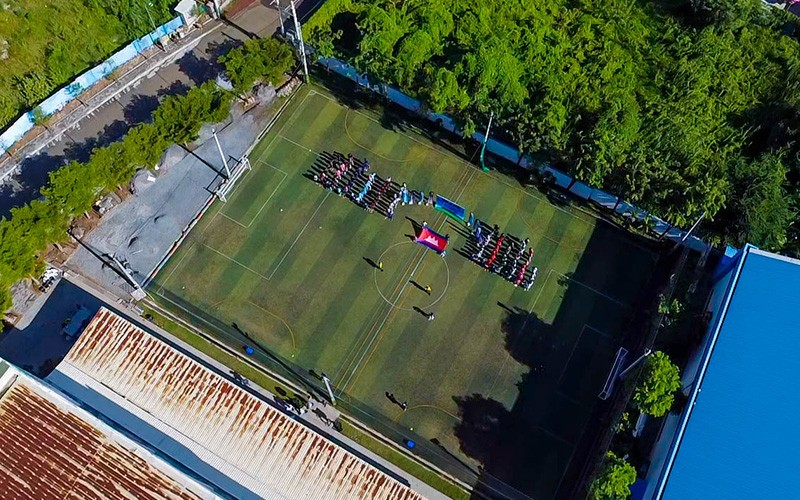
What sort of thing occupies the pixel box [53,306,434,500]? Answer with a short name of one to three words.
shed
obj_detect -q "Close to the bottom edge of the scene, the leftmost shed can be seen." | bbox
[0,363,238,500]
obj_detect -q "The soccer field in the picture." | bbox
[145,81,677,500]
